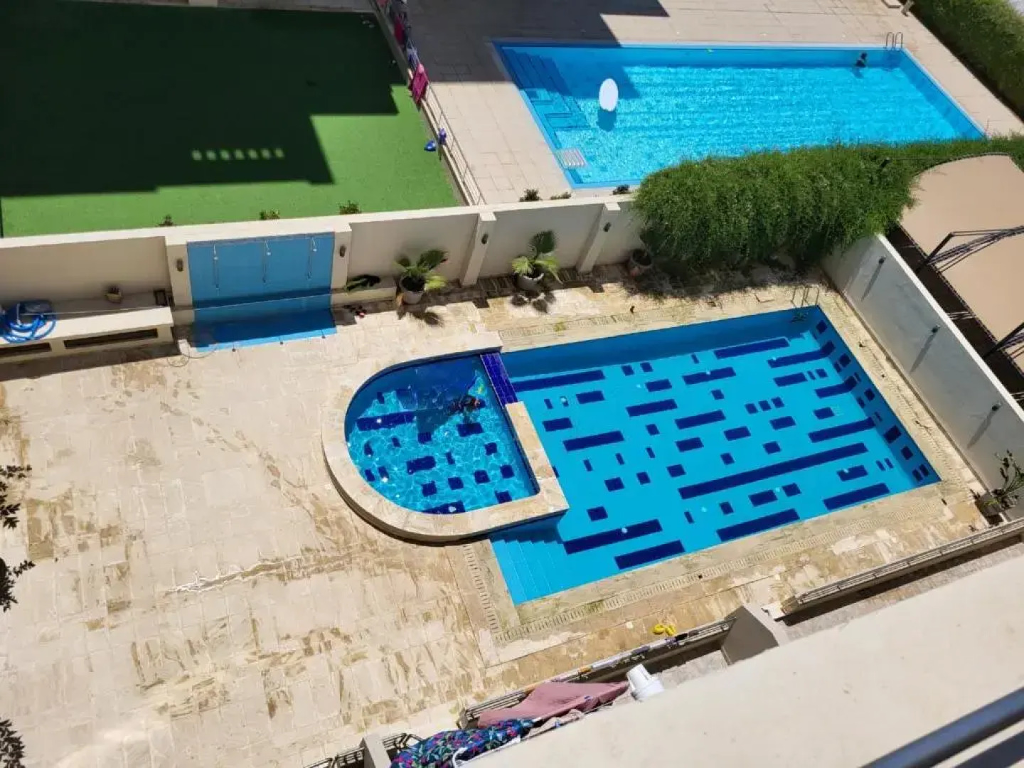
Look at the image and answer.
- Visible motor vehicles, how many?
zero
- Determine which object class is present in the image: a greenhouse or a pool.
pool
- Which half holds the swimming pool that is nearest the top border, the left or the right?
right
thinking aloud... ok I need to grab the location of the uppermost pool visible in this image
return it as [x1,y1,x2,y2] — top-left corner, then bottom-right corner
[488,39,982,192]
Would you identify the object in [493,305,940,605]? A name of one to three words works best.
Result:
swimming pool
